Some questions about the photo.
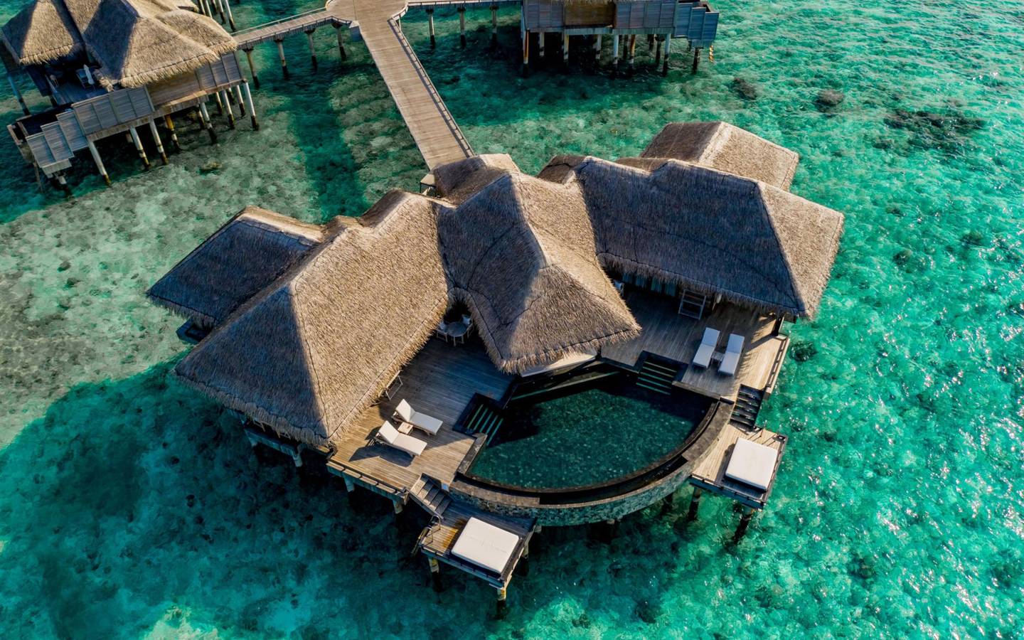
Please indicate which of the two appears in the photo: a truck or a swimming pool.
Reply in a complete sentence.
Visible in the photo is a swimming pool.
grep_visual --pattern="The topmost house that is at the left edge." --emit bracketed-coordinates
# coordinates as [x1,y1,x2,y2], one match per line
[0,0,250,200]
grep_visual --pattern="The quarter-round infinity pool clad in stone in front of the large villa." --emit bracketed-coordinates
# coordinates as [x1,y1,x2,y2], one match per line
[443,344,741,558]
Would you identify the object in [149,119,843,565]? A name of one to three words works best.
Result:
house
